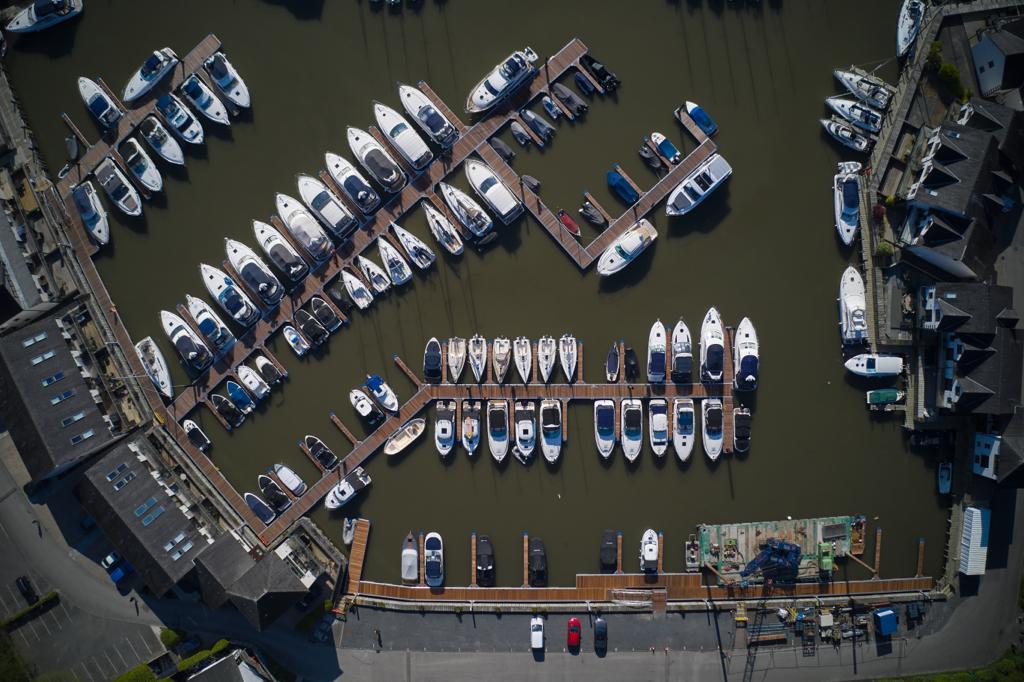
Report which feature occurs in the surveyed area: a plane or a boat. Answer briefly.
boat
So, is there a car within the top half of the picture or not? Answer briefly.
No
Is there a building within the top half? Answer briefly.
Yes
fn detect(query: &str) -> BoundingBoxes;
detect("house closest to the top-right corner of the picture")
[966,27,1024,99]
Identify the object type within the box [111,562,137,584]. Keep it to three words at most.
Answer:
car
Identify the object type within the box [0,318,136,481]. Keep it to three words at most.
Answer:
house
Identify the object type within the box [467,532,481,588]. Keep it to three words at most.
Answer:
pier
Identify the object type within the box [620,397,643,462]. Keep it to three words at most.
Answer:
boat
